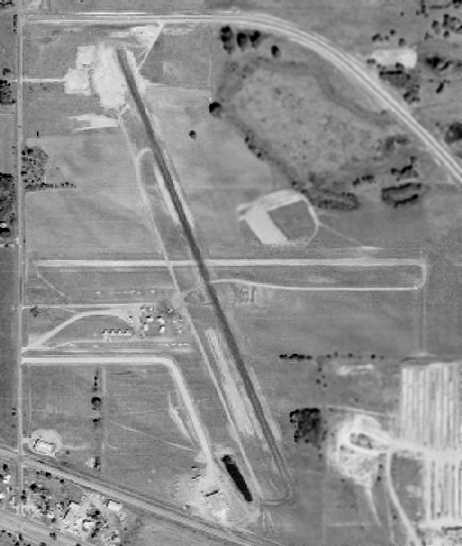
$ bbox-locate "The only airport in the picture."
[22,47,427,505]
